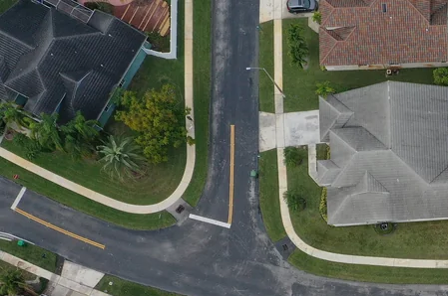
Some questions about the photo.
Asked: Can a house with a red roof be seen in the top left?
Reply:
No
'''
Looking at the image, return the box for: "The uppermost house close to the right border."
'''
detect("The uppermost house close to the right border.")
[319,0,448,71]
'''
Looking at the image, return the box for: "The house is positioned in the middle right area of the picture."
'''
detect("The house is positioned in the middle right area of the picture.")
[317,80,448,227]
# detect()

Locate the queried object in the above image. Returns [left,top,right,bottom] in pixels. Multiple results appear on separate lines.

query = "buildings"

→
[319,0,448,71]
[317,80,448,227]
[0,0,150,132]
